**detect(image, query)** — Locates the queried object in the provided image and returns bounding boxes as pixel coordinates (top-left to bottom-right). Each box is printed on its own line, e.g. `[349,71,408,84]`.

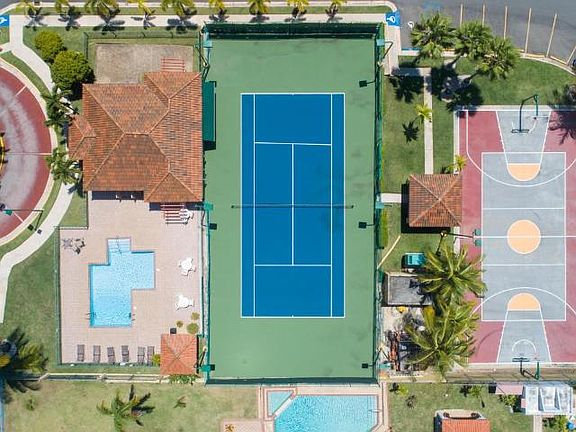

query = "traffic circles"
[0,56,60,242]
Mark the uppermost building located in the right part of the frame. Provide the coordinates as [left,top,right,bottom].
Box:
[404,173,462,228]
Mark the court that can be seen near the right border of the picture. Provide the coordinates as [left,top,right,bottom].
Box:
[459,110,576,363]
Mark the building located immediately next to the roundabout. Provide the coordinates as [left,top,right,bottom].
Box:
[68,69,202,204]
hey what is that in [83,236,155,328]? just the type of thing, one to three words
swimming pool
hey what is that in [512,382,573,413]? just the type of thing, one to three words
shed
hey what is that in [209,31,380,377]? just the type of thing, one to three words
tennis court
